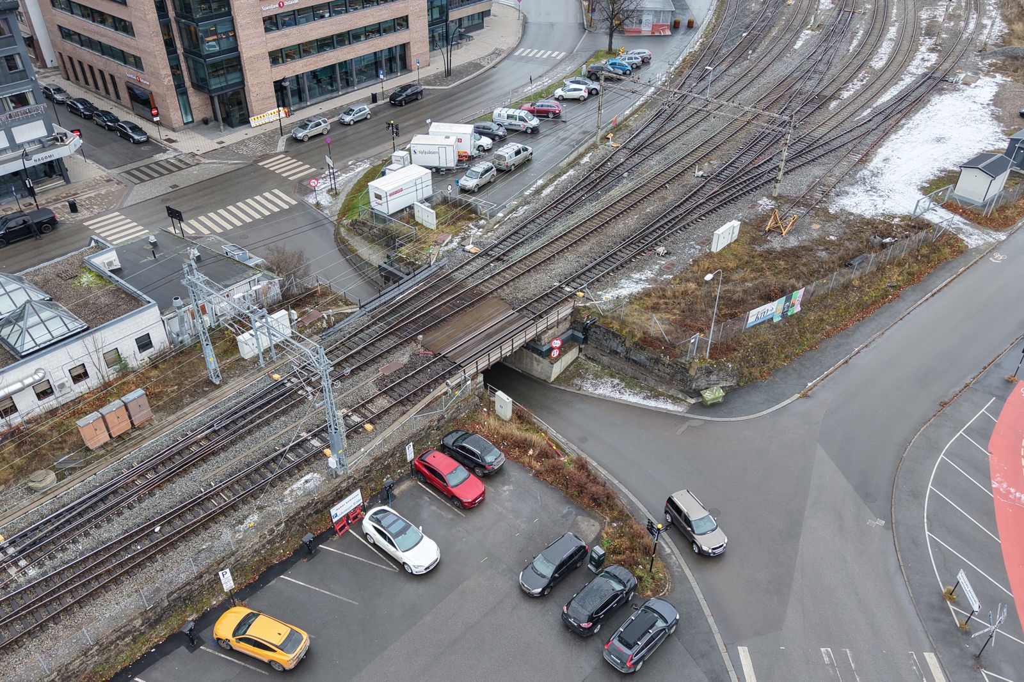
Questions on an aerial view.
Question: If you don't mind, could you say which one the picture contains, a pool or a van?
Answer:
van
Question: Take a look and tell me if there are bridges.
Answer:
Yes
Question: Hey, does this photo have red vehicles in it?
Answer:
Yes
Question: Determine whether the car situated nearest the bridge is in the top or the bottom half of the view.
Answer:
bottom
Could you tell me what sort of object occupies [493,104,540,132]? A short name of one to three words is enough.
van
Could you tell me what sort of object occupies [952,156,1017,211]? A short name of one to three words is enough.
shed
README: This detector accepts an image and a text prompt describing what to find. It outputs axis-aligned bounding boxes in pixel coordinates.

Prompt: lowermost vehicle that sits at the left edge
[0,208,60,248]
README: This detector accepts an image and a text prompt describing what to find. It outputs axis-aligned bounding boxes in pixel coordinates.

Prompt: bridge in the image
[319,246,576,426]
